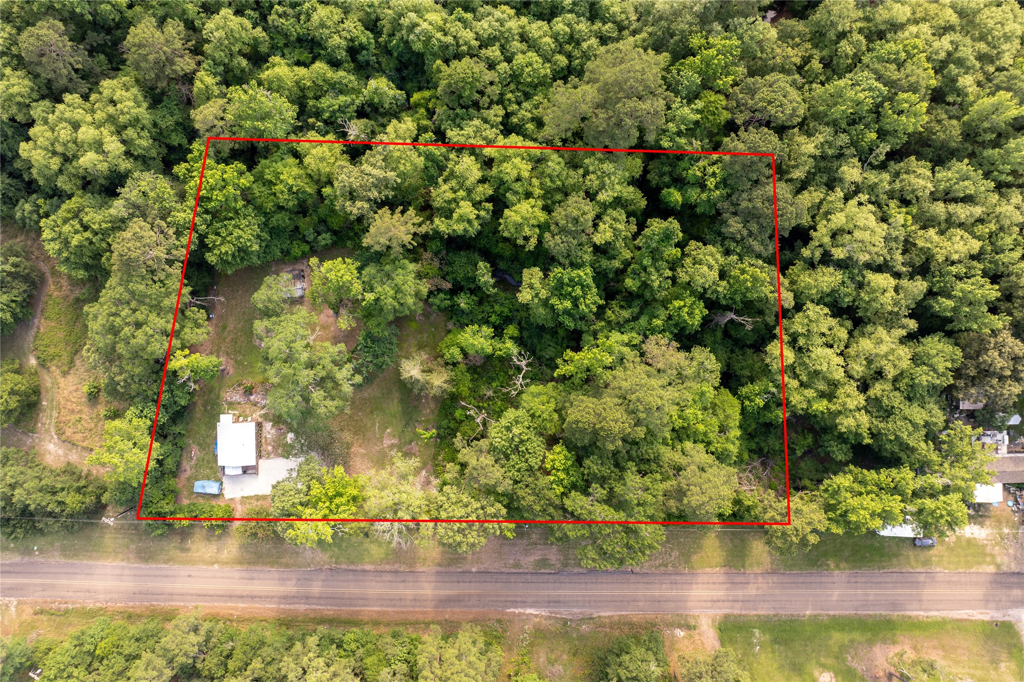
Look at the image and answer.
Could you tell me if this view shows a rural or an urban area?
rural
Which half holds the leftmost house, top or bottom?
bottom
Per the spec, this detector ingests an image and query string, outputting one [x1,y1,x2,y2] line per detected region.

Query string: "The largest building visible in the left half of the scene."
[217,414,259,477]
